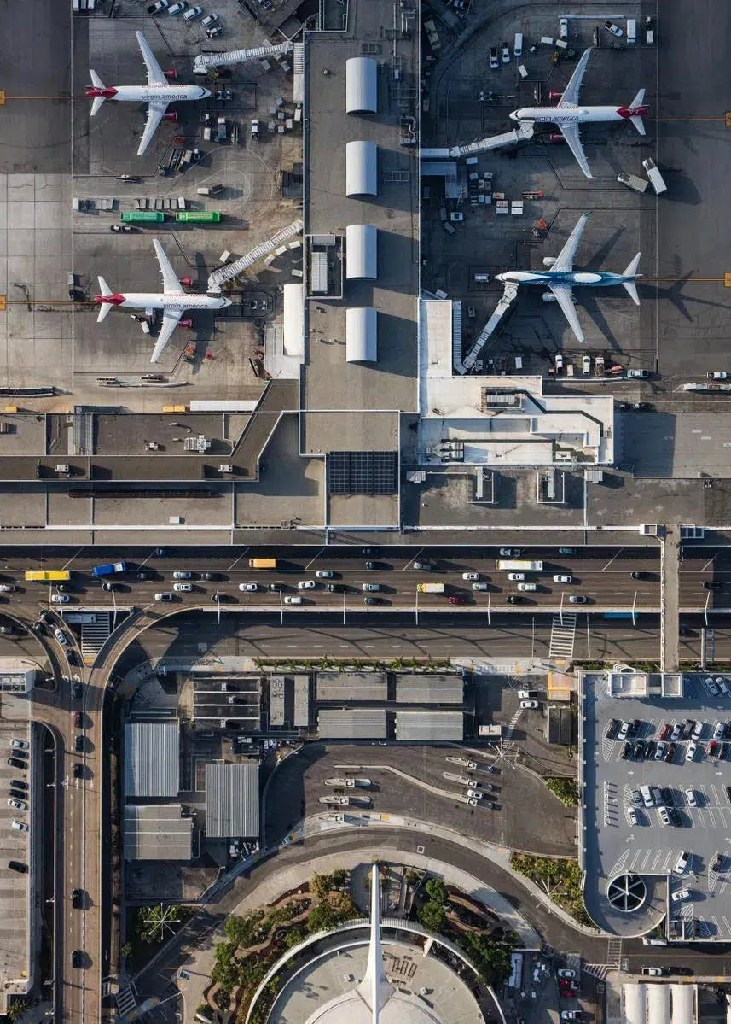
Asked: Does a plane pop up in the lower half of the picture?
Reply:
No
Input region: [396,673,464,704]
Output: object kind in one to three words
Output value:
shed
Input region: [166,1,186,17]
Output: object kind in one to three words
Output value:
vehicle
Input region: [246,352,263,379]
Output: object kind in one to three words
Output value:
work vehicle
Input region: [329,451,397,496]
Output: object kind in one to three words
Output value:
solar panel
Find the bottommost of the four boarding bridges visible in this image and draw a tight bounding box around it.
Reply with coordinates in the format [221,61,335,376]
[454,280,520,376]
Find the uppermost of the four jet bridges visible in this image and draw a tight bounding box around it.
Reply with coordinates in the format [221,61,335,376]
[196,40,293,78]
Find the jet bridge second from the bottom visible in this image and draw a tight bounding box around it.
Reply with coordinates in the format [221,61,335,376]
[209,222,303,297]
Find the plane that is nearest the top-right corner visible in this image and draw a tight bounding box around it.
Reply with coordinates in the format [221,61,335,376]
[509,43,652,177]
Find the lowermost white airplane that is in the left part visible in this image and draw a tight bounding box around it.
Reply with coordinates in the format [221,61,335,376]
[91,238,231,364]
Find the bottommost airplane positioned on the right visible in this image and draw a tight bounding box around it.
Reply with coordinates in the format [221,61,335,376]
[495,210,646,340]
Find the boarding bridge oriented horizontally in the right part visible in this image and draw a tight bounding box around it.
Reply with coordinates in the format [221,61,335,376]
[420,119,535,161]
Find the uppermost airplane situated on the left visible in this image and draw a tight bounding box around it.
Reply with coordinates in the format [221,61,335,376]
[83,28,211,154]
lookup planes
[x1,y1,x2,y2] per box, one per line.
[83,28,211,154]
[91,238,231,364]
[509,43,652,177]
[495,210,646,340]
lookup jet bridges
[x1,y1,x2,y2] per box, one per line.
[196,40,293,78]
[420,119,535,161]
[454,280,520,376]
[209,222,303,297]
